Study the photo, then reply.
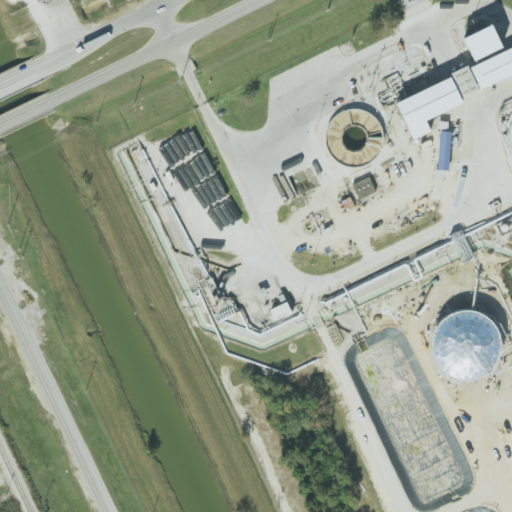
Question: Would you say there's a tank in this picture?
Yes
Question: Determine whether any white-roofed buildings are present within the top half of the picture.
Yes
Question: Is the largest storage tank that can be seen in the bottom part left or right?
right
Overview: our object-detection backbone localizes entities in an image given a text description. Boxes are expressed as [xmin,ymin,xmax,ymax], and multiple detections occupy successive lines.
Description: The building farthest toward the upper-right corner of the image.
[466,22,506,61]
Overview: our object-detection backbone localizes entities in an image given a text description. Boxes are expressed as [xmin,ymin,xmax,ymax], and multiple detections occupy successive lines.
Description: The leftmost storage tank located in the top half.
[328,110,382,164]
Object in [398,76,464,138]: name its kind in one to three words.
building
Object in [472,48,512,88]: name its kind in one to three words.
building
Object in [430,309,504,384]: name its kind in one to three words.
storage tank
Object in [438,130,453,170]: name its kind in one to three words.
shed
